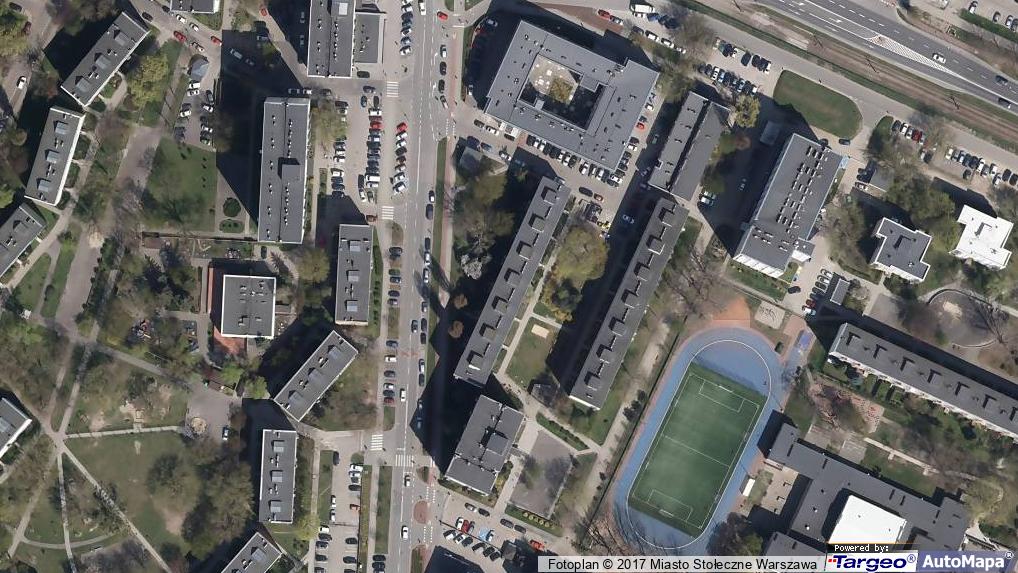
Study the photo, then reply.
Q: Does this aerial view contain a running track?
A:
Yes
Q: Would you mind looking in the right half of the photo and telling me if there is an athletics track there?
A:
Yes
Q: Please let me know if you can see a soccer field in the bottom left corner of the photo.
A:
No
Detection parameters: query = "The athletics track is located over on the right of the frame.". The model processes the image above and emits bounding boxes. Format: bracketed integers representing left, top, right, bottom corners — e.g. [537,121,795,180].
[613,327,801,564]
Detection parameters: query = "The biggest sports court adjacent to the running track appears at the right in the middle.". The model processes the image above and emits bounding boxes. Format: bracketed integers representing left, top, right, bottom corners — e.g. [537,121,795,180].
[786,313,816,360]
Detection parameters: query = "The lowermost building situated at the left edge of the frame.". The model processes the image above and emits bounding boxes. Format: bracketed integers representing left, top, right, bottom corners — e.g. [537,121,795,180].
[0,398,32,457]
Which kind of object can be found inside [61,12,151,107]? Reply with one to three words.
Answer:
building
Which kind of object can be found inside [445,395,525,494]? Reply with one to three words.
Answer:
building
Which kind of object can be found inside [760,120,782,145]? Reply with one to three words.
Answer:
shed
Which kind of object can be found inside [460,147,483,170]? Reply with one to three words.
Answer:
shed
